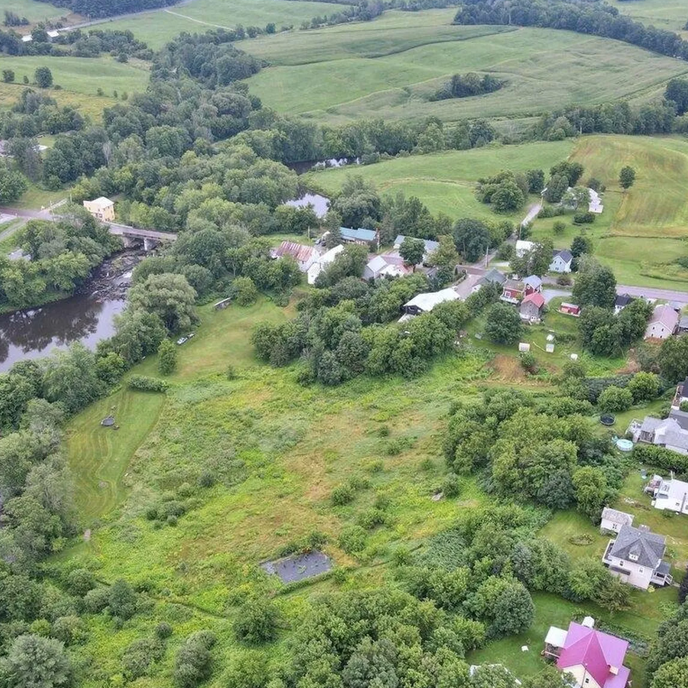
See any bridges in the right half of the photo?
No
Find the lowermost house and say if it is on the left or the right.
right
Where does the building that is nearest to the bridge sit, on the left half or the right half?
left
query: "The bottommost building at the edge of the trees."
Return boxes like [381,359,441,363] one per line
[543,621,634,688]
